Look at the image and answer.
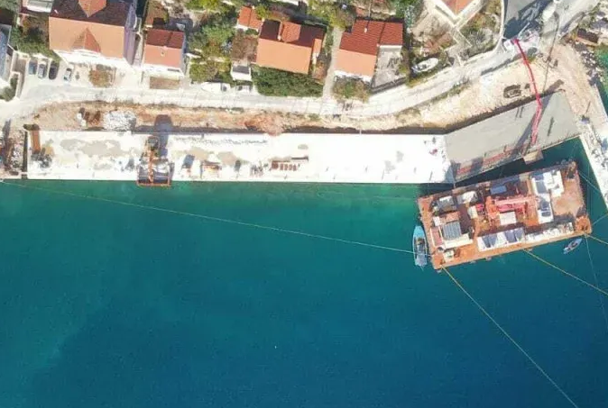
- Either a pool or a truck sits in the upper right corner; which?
truck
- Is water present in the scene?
Yes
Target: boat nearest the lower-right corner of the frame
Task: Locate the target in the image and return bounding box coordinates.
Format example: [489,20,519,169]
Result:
[562,239,581,255]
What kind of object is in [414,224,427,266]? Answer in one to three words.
boat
